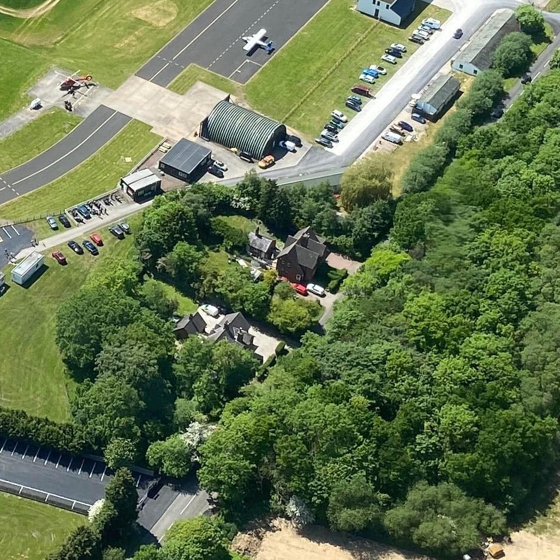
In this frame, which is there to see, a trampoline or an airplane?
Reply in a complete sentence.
Looking from above, you can make out an airplane.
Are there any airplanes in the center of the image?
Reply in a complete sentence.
No, I see no airplane in the center of the image.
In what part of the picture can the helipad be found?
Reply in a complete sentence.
The helipad appears toward the top left of the photo.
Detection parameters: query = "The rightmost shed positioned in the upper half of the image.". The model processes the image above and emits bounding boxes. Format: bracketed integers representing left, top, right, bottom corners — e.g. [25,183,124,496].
[454,9,526,75]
